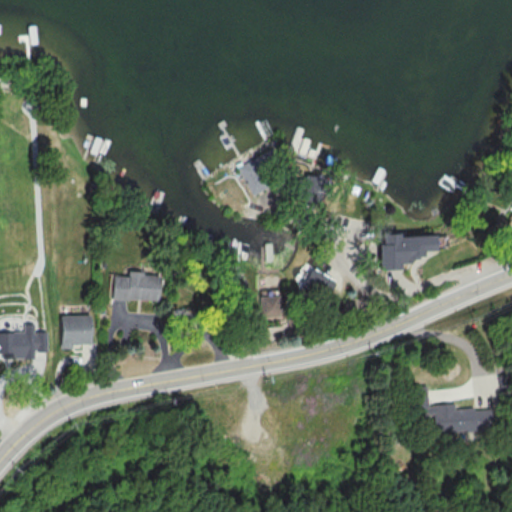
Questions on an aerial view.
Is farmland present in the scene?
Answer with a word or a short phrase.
No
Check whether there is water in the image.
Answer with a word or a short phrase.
Yes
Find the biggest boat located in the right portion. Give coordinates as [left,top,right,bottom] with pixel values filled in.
[440,176,456,192]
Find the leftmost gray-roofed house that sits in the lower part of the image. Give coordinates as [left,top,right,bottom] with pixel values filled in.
[0,320,48,360]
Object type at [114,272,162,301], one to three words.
house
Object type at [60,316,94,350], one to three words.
house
